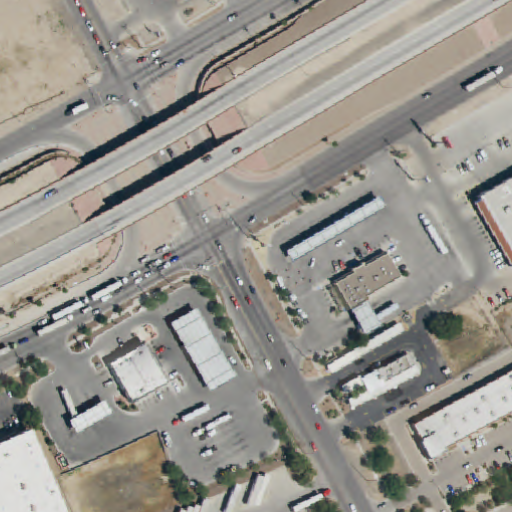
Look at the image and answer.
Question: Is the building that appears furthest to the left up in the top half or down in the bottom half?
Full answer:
You can find the building that appears furthest to the left in the bottom half.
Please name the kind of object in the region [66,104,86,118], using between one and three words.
vehicle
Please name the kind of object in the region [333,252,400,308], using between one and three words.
building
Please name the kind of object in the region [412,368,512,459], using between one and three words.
building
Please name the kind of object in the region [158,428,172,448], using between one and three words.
vehicle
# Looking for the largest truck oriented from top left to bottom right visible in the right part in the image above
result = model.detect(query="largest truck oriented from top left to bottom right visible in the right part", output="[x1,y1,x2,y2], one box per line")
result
[420,219,447,253]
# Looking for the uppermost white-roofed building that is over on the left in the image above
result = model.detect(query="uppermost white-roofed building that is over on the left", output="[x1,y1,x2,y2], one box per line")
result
[108,344,167,401]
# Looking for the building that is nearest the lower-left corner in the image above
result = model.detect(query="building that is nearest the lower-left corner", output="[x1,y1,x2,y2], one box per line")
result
[0,428,68,512]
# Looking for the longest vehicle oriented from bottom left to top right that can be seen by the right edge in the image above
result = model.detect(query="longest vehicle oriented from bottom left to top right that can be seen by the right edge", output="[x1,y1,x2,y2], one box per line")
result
[466,68,499,91]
